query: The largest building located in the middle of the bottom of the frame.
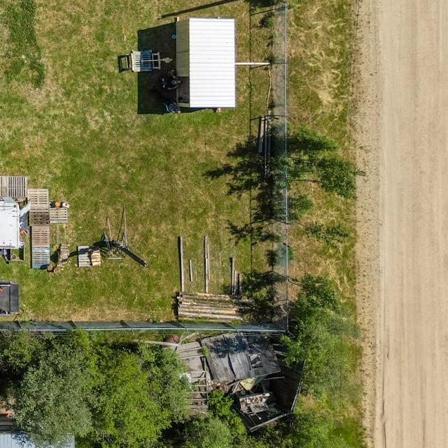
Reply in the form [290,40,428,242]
[201,332,303,433]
